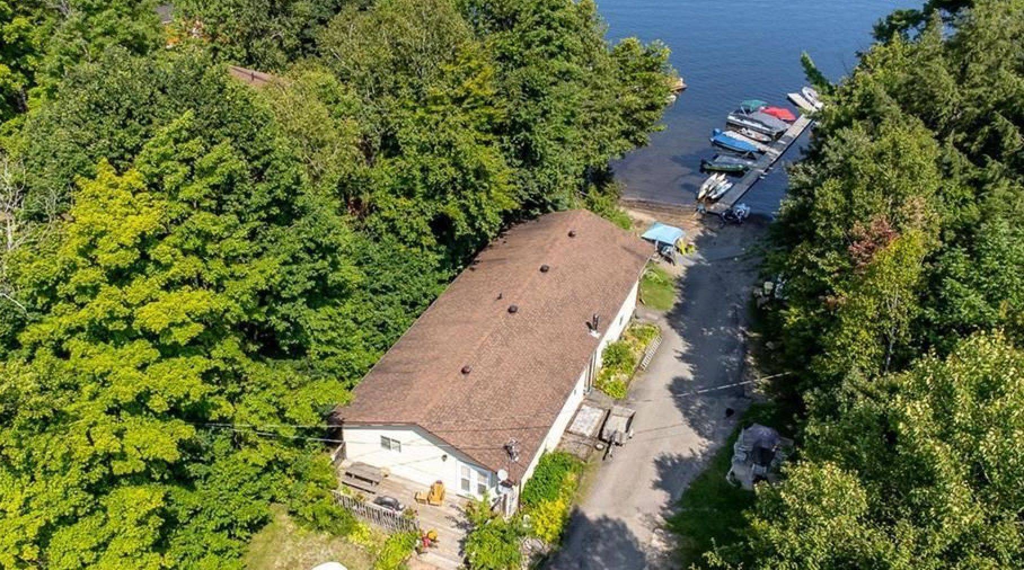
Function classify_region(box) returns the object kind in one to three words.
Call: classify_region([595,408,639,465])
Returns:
trailer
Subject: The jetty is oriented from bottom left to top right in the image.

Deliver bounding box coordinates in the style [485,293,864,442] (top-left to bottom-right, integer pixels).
[708,110,821,224]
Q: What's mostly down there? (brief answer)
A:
trees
